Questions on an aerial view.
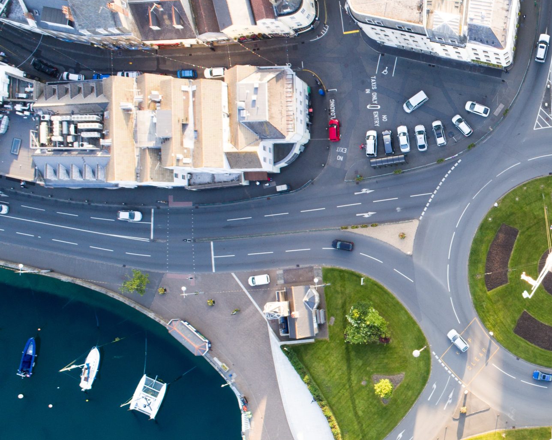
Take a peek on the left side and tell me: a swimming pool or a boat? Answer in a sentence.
There is a boat on the left side.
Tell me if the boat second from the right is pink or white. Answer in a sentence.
The boat second from the right looks white in the image.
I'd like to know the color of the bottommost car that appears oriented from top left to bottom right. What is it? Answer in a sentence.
In this view, the bottommost car that appears oriented from top left to bottom right is white.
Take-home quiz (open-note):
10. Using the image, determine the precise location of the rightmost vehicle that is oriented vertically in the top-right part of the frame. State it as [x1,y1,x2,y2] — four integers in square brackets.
[535,35,549,63]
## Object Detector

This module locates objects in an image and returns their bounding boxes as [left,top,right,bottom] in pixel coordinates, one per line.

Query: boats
[122,375,167,420]
[16,338,34,378]
[62,348,99,391]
